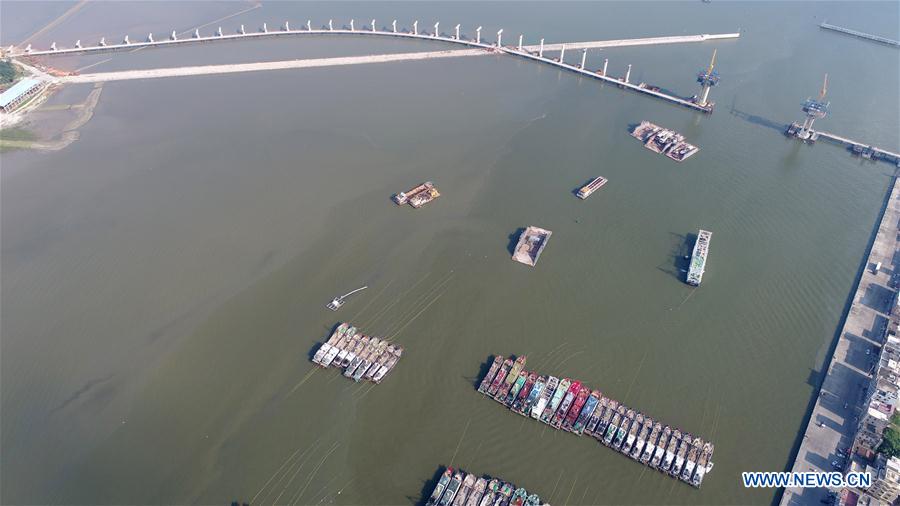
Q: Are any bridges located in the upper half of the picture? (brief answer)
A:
Yes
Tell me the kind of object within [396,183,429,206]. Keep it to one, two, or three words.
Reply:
ship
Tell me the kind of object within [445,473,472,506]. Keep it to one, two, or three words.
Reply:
boat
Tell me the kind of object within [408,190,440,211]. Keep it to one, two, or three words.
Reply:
ship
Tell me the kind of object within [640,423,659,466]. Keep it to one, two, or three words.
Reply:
boat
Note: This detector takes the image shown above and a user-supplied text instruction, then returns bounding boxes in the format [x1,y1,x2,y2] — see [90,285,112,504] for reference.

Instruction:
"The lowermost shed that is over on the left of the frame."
[0,73,43,111]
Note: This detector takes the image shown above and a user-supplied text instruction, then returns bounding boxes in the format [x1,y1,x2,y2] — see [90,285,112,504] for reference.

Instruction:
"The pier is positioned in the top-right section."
[818,24,900,48]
